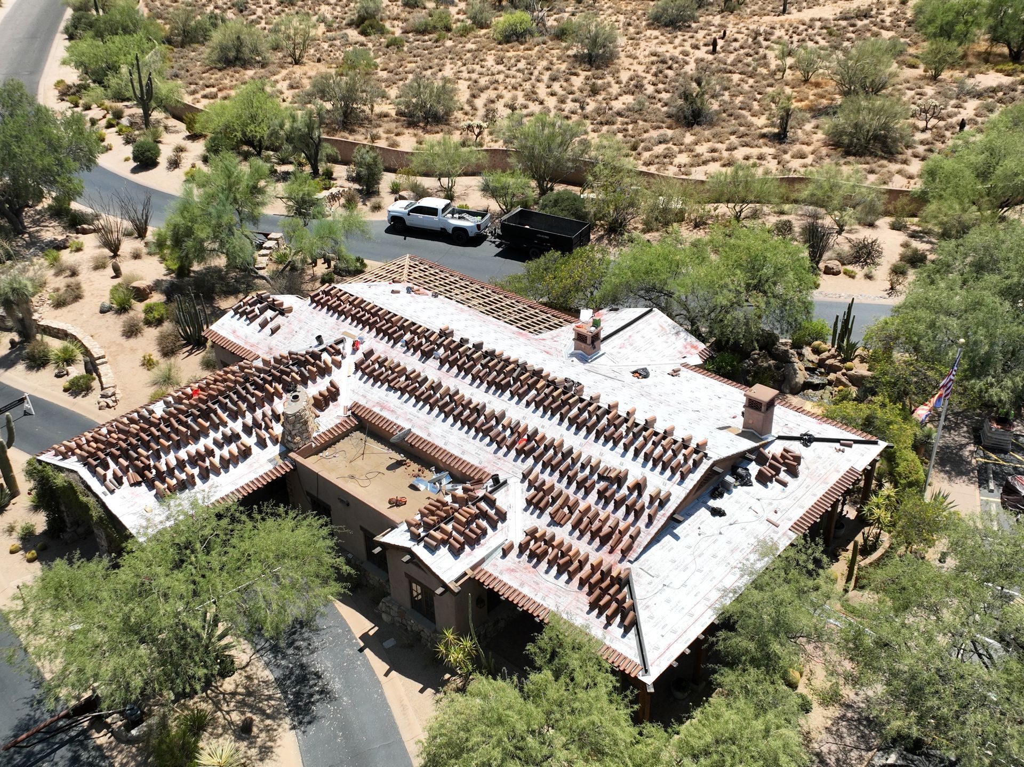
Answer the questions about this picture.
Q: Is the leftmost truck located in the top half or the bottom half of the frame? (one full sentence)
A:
The leftmost truck sits in the top half of the picture.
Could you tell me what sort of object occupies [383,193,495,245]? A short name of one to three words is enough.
truck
